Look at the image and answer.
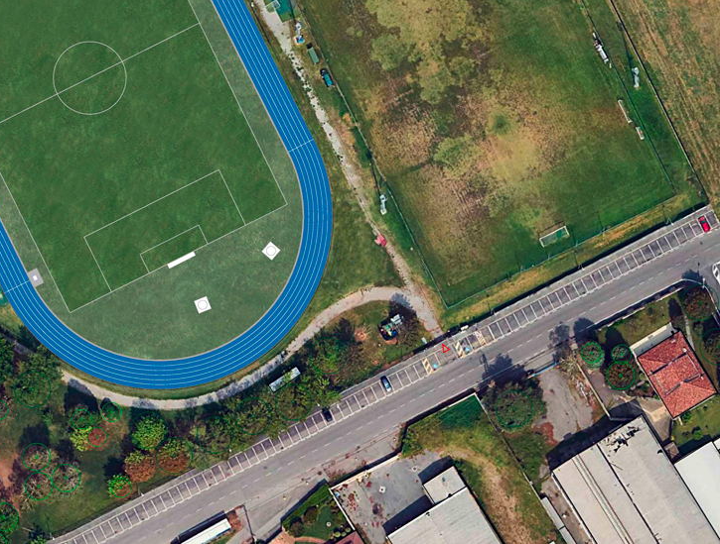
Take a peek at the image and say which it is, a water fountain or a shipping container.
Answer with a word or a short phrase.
shipping container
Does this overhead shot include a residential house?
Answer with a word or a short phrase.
Yes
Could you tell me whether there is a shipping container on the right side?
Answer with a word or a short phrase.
No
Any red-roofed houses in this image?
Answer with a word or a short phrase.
Yes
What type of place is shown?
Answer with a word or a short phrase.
sports ground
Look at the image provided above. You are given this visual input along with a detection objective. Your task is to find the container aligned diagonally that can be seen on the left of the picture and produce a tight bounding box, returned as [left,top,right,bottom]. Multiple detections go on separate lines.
[270,366,301,392]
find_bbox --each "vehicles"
[187,518,233,544]
[699,216,711,232]
[380,375,392,392]
[321,70,333,87]
[322,407,334,423]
